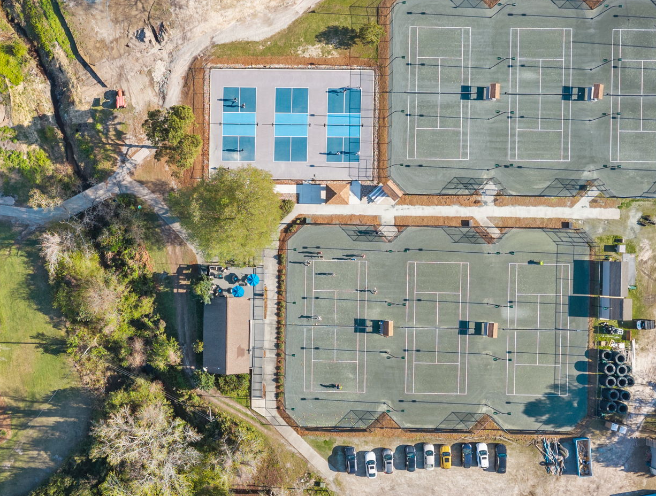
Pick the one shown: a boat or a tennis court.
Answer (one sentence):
Looking from above, you can make out a tennis court.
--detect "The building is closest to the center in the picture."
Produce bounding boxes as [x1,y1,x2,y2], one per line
[324,183,350,205]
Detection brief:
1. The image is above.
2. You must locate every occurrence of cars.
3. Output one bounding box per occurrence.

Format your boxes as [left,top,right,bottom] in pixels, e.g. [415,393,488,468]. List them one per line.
[344,445,356,472]
[439,443,452,468]
[363,449,377,477]
[493,441,508,471]
[403,443,416,470]
[459,441,473,467]
[380,446,394,472]
[422,441,434,468]
[474,440,489,468]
